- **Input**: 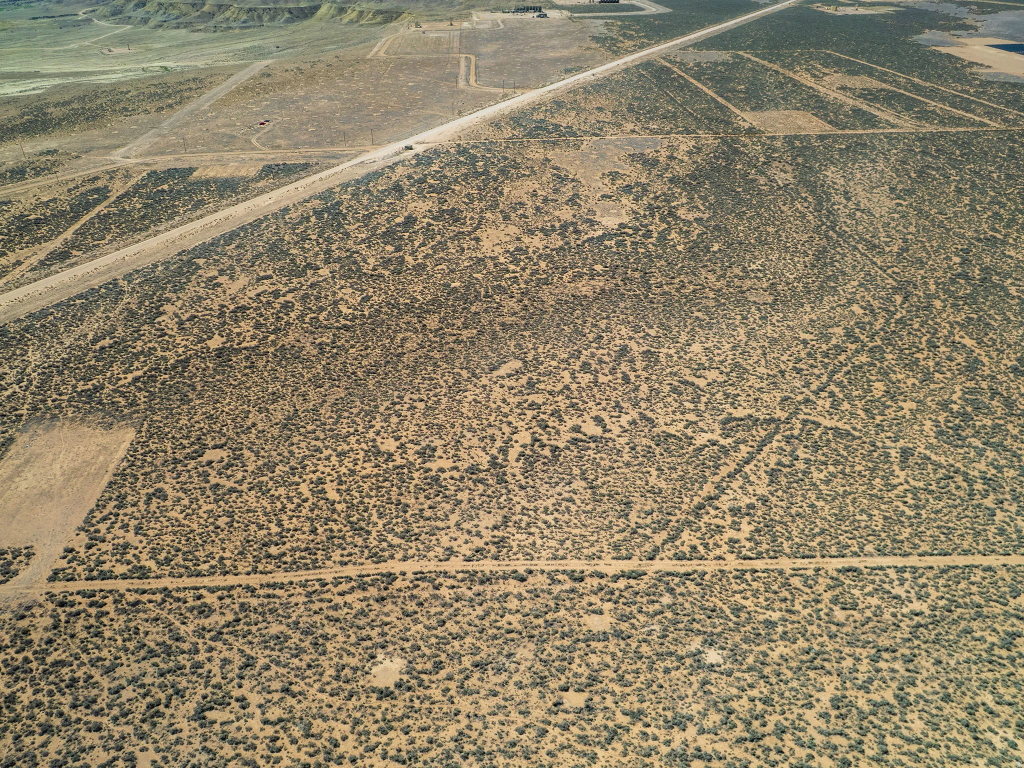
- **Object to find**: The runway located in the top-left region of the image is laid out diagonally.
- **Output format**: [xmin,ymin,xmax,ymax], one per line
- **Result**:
[116,60,276,156]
